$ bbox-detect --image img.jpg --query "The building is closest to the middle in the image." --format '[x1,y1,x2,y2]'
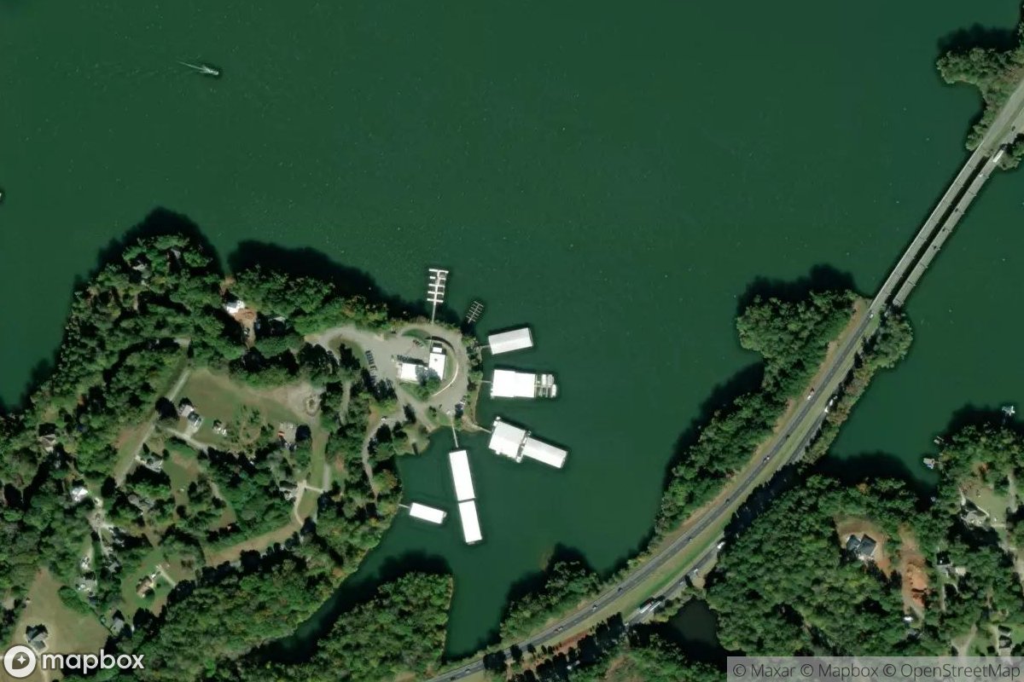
[397,347,446,383]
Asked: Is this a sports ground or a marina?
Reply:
marina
